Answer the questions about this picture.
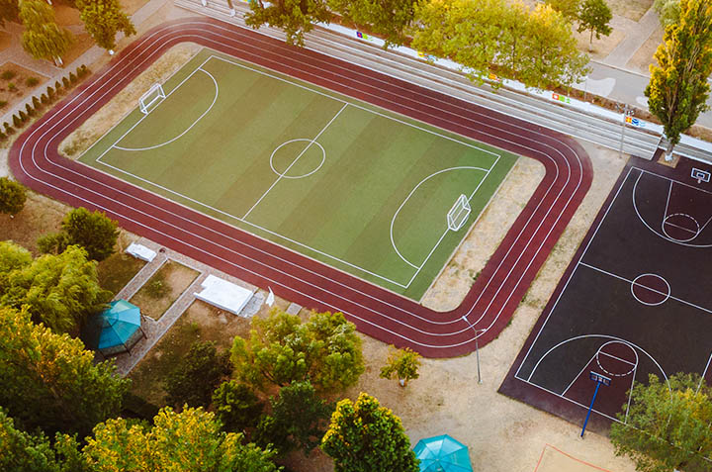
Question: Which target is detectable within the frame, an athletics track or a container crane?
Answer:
athletics track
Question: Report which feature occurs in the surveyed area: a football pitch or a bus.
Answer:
football pitch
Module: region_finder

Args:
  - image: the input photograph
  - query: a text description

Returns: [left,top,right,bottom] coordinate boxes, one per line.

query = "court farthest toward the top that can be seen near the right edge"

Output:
[516,167,712,442]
